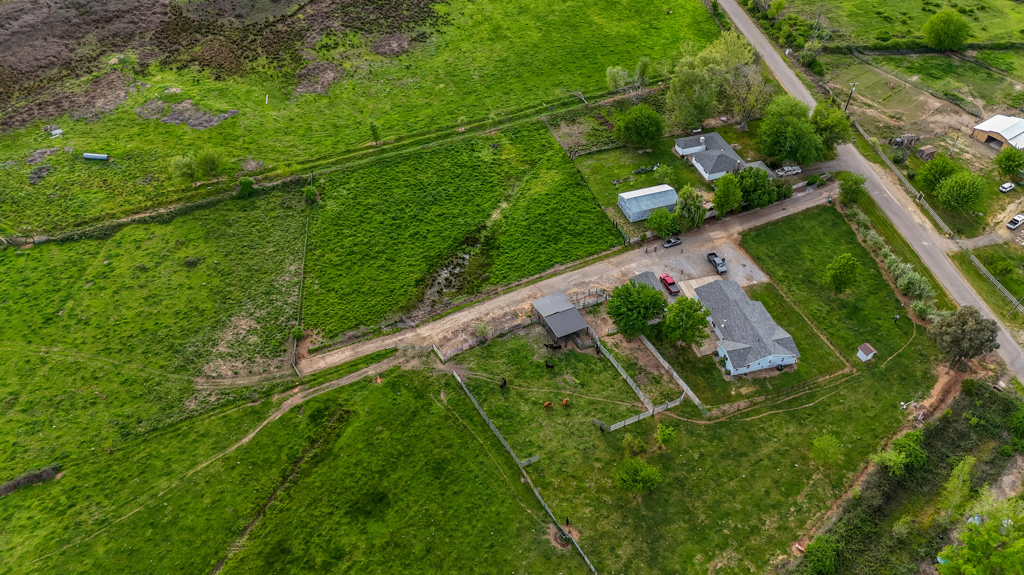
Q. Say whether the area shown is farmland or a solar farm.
farmland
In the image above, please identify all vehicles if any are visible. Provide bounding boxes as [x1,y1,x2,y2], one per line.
[662,237,683,248]
[999,182,1016,192]
[1006,214,1024,229]
[776,165,799,177]
[659,274,680,295]
[707,255,728,276]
